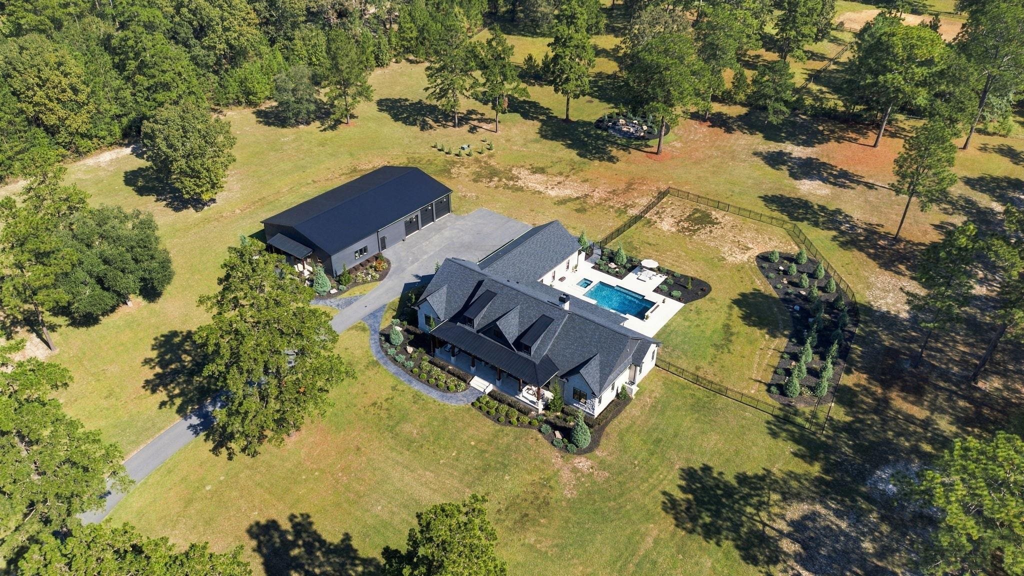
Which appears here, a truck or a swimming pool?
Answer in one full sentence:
This aerial view contains a swimming pool.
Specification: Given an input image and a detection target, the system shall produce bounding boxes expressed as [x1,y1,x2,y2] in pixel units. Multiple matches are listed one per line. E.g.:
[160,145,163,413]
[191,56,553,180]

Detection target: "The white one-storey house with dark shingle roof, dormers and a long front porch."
[410,220,663,416]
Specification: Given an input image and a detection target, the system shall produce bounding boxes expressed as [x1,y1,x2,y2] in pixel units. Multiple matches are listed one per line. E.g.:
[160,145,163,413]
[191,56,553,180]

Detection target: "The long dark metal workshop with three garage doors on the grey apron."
[261,166,453,277]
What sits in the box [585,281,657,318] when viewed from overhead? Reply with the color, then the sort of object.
blue swimming pool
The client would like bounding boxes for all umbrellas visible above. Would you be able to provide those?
[641,259,659,279]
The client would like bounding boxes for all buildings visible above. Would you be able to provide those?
[410,220,663,416]
[261,166,453,277]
